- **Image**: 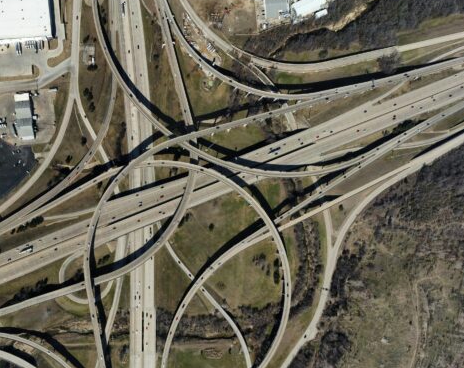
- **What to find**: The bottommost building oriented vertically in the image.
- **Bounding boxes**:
[15,92,35,141]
